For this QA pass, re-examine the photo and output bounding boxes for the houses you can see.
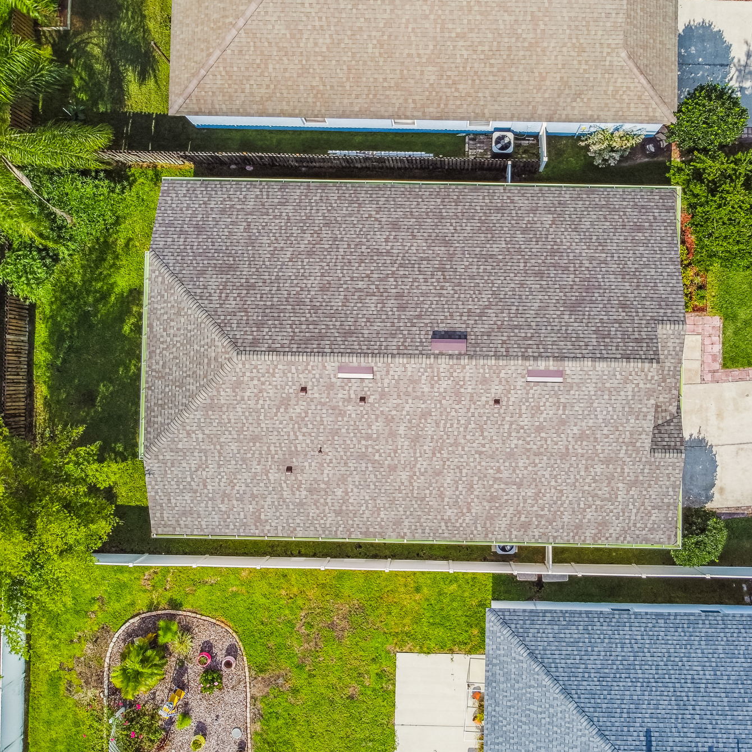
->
[166,0,680,135]
[139,176,686,548]
[483,600,752,752]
